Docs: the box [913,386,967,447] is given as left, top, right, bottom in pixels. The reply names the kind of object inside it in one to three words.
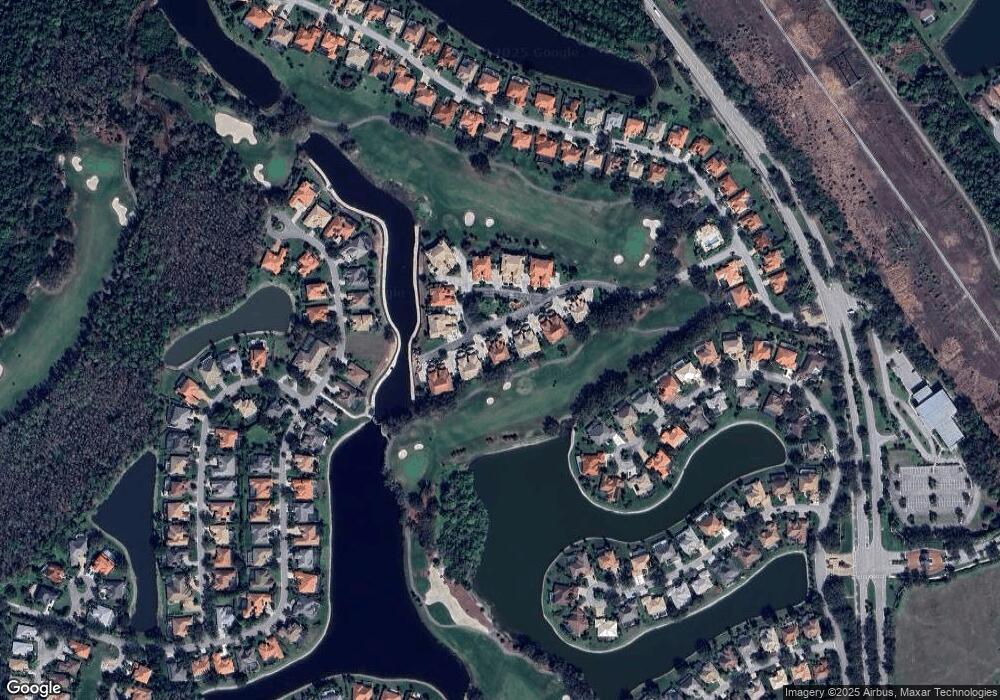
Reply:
building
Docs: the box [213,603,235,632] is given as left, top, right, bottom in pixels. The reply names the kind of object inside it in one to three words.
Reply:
house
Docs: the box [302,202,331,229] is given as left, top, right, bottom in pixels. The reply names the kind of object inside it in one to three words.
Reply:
house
